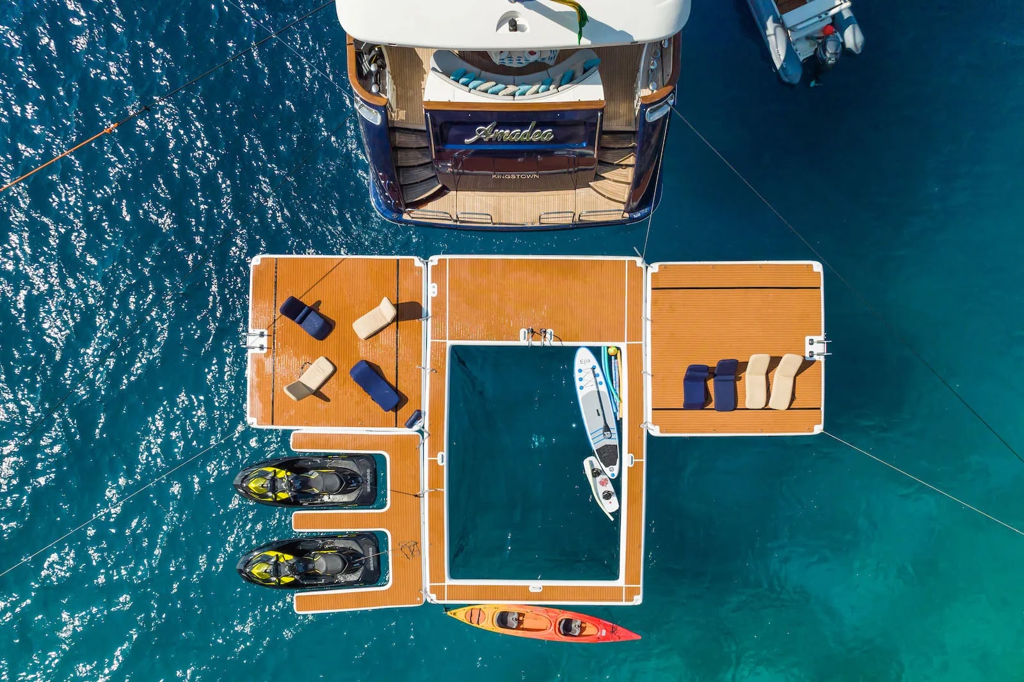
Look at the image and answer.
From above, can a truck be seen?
No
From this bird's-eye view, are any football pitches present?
No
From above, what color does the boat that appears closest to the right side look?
blue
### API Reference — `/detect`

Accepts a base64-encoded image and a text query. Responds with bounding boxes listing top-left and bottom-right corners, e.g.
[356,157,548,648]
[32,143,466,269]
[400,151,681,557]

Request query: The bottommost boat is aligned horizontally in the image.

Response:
[447,602,642,643]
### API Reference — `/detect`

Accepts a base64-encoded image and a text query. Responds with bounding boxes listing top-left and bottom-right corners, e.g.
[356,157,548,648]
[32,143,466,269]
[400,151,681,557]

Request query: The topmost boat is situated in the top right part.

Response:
[749,0,868,88]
